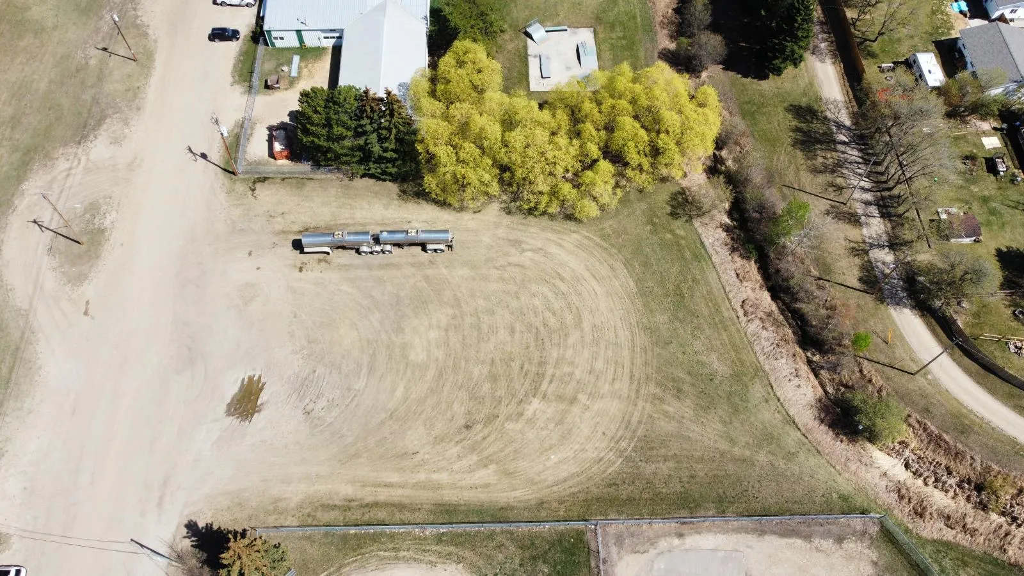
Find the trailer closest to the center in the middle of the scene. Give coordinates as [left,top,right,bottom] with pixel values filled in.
[378,226,457,254]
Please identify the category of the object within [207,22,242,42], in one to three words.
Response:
car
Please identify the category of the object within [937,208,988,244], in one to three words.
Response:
shed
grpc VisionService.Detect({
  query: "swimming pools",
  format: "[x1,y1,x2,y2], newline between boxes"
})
[951,1,971,14]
